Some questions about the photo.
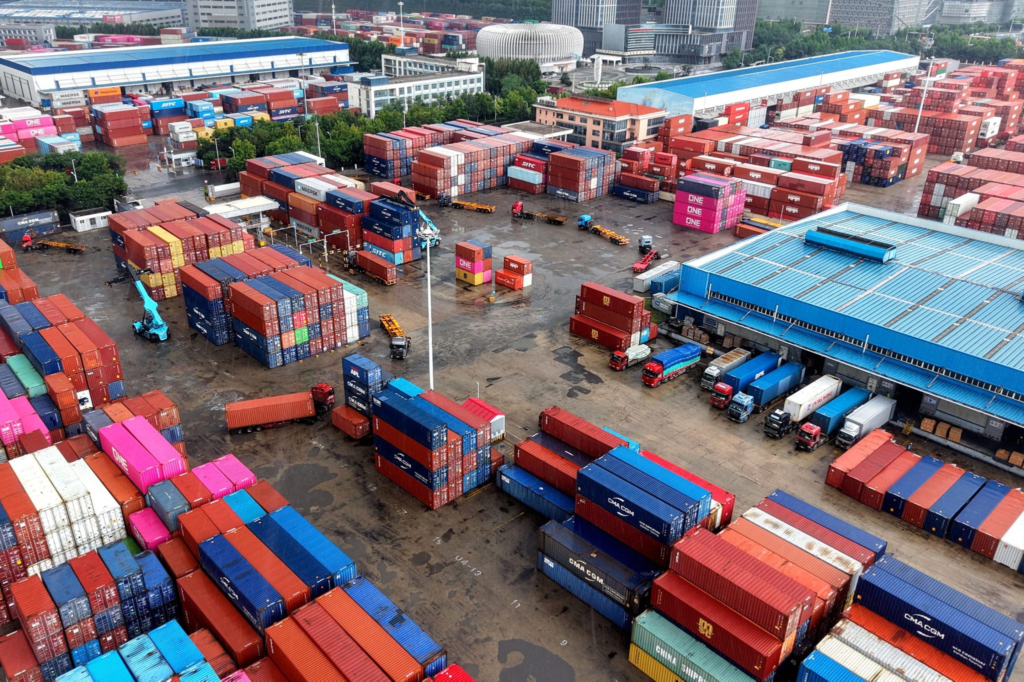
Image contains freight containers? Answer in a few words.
Yes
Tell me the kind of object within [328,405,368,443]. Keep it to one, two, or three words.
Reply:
shipping container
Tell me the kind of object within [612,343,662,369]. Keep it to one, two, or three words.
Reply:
truck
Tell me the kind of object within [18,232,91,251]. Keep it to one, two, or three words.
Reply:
vehicle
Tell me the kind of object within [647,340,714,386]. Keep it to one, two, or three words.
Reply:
truck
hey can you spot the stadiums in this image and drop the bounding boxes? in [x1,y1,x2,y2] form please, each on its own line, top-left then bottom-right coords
[471,17,587,64]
